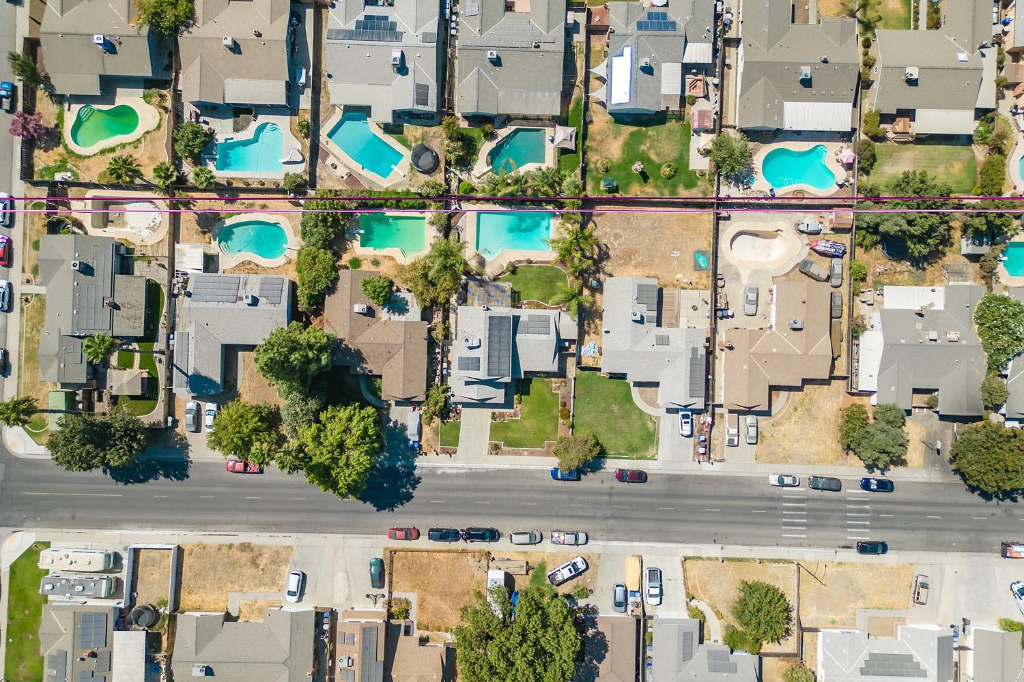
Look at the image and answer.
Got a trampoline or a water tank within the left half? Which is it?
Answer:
trampoline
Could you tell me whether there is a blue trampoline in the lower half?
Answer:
No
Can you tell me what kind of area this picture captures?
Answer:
residential area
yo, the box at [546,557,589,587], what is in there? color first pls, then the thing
white truck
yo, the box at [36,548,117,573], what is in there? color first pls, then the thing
white camper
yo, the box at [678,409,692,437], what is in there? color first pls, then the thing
white car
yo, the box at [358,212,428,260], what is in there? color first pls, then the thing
green swimming pool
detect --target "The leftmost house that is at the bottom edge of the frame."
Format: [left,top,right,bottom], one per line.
[34,601,153,682]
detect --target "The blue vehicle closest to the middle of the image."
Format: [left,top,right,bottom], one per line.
[548,467,579,481]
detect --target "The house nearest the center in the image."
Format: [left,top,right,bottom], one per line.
[450,304,578,405]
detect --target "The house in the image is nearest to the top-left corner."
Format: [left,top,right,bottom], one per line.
[41,0,159,100]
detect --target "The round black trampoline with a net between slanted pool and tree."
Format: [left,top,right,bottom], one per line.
[410,143,439,174]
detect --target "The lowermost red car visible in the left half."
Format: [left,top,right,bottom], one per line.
[388,526,420,541]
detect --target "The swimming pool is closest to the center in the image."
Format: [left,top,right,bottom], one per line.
[474,212,553,263]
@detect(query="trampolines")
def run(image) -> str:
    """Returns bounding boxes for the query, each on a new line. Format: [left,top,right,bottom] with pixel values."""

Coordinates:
[410,143,439,174]
[127,600,160,632]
